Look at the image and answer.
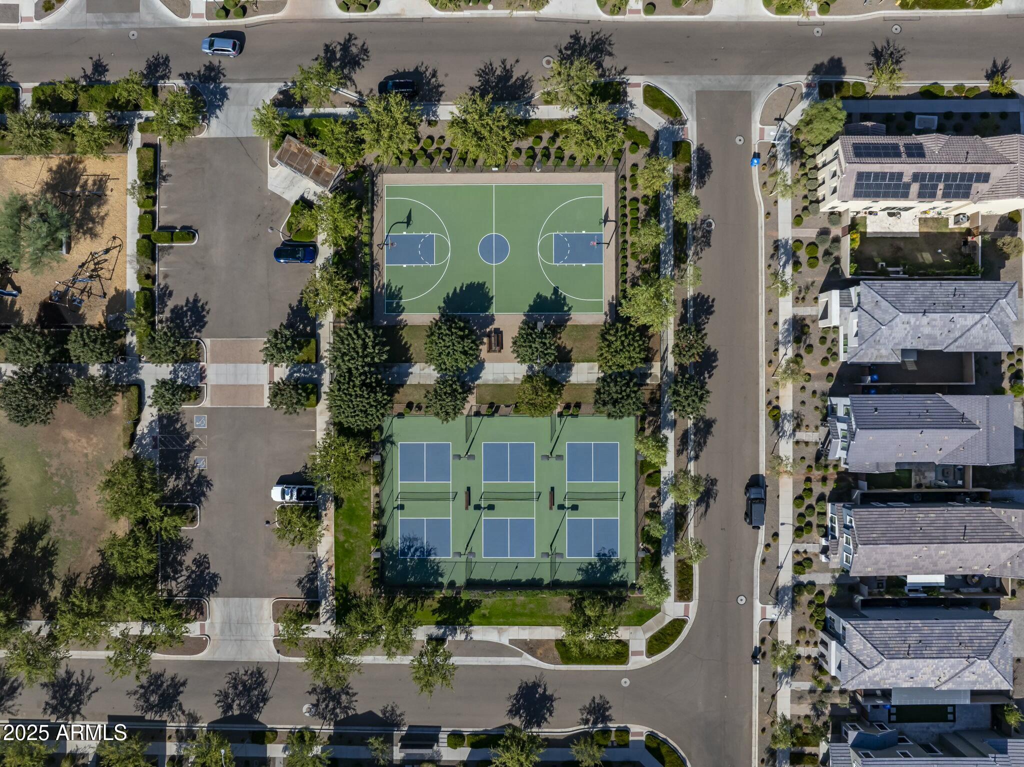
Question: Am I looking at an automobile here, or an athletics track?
automobile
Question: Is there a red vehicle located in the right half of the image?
No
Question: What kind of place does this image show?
residential area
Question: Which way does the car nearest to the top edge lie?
horizontally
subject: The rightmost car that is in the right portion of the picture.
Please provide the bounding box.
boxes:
[743,478,765,522]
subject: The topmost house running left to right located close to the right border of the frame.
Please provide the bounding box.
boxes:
[818,111,1024,212]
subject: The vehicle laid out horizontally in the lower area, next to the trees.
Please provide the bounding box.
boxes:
[269,484,317,504]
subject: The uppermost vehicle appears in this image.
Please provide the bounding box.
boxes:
[199,32,241,56]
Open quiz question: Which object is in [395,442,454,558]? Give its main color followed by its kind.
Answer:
blue sports court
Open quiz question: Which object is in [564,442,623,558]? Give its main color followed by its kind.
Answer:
blue sports court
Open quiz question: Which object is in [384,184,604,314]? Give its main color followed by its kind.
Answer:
green basketball court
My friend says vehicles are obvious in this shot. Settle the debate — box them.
[199,32,241,56]
[743,478,765,522]
[377,77,420,99]
[269,484,317,504]
[274,245,315,265]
